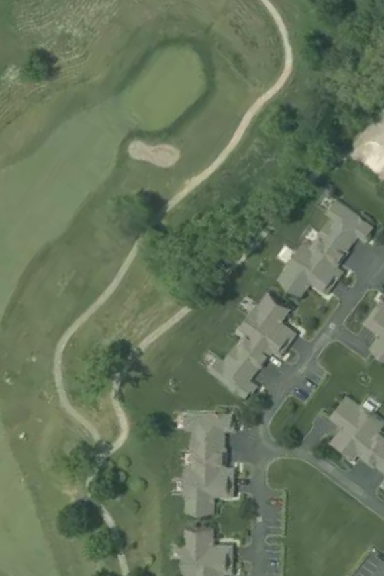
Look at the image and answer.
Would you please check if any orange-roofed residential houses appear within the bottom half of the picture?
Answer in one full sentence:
No, within the bottom half of the picture there is no orange-roofed residential house.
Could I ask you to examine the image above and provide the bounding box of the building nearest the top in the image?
[274,194,379,299]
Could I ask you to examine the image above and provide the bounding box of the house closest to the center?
[200,287,298,399]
